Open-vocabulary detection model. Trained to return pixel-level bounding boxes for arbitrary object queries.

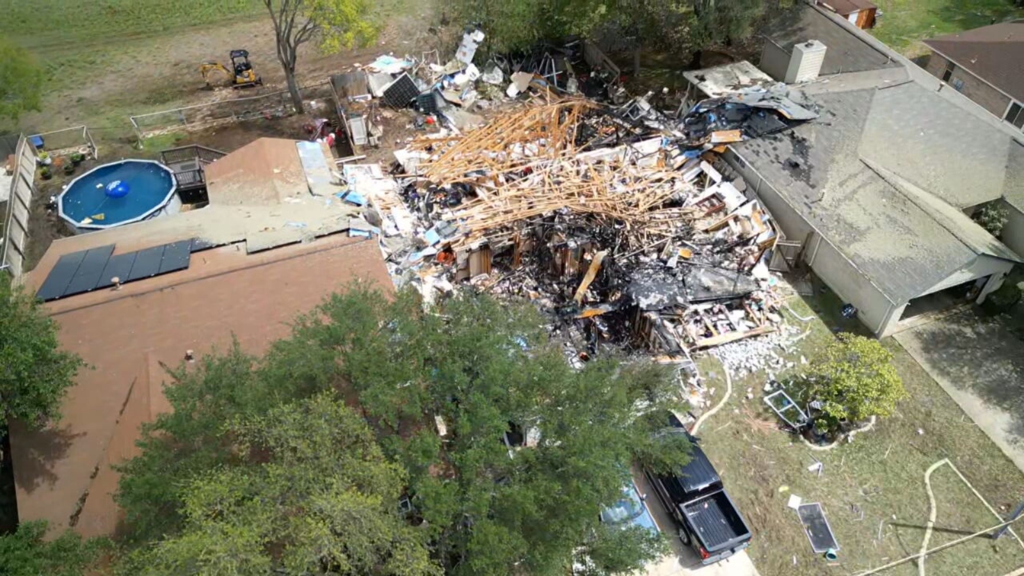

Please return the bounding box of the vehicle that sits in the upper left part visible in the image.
[200,49,267,92]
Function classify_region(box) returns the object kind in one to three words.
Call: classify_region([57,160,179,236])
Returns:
swimming pool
